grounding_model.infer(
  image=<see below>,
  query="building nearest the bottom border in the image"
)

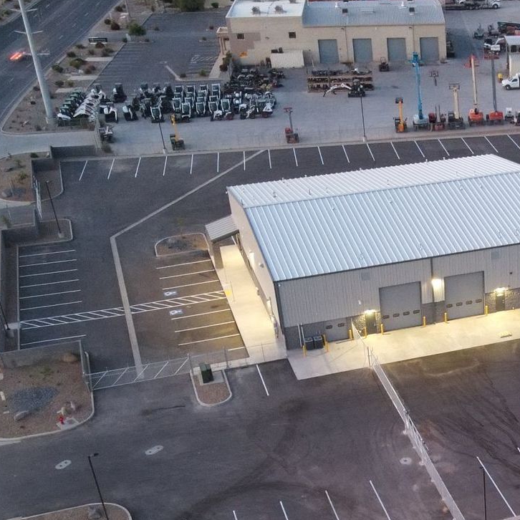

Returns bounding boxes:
[227,153,520,349]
